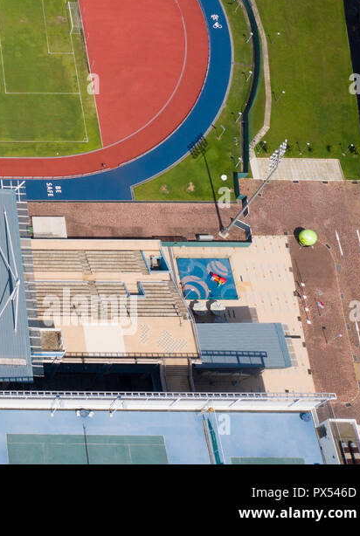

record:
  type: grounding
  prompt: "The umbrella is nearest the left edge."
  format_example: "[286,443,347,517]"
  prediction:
[195,297,213,313]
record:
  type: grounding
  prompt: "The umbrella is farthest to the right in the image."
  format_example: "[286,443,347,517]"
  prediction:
[214,297,232,313]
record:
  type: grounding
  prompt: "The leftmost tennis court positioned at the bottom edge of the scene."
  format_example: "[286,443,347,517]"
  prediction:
[2,425,187,530]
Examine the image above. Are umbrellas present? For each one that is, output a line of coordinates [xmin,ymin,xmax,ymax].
[195,297,213,313]
[214,297,232,313]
